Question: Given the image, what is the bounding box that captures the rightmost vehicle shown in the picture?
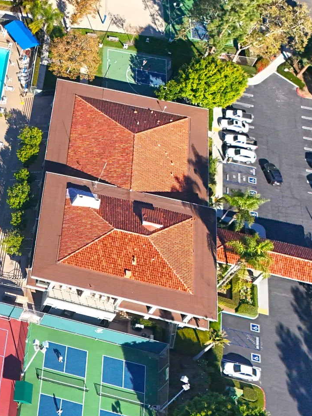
[260,163,285,186]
